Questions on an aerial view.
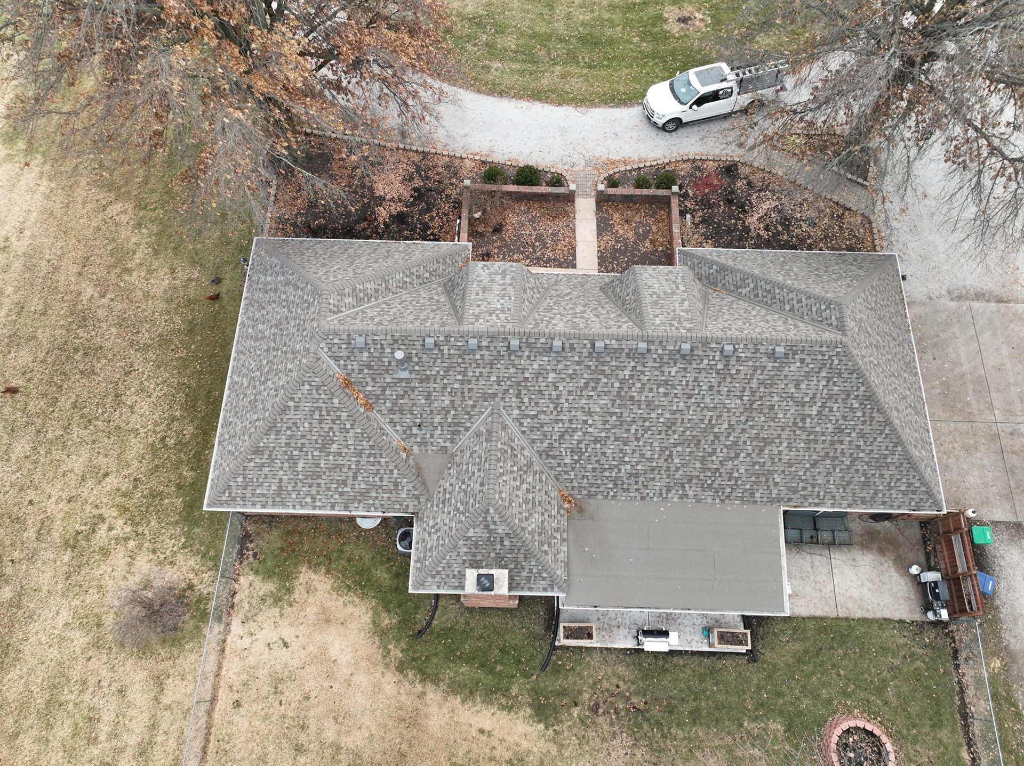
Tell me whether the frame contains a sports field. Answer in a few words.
No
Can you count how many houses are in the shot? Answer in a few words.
1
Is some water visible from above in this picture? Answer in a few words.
No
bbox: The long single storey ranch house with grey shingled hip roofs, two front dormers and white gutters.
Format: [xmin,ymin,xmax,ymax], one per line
[203,237,946,615]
